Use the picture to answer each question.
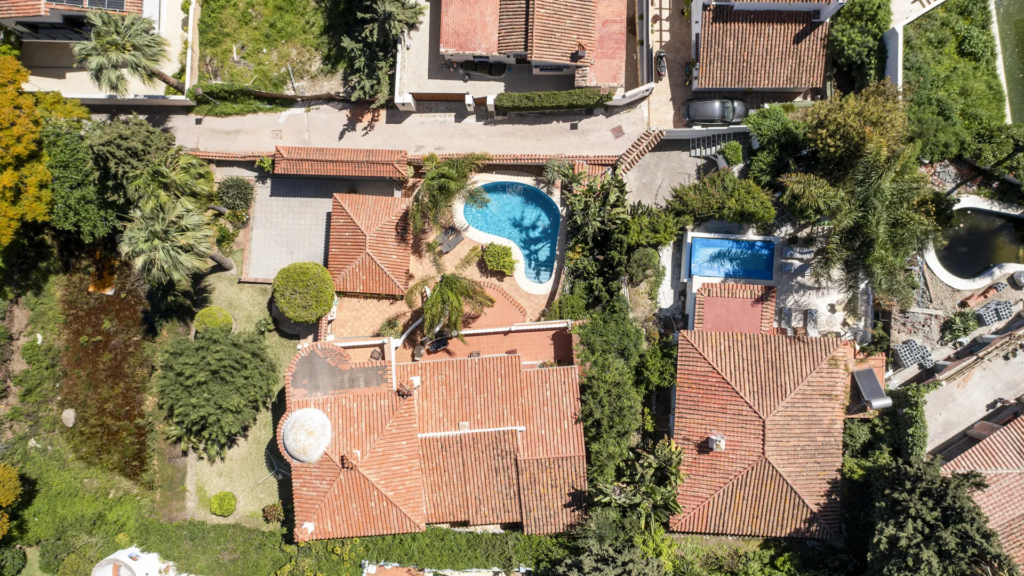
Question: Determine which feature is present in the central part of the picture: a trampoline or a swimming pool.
swimming pool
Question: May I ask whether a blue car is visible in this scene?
No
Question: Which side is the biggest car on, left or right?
right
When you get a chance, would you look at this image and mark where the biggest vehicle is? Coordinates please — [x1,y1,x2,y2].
[681,96,746,128]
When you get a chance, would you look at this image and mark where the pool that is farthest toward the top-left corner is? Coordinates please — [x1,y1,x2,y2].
[454,171,568,294]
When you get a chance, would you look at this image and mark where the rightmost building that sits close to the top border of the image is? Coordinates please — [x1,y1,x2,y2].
[683,0,848,98]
